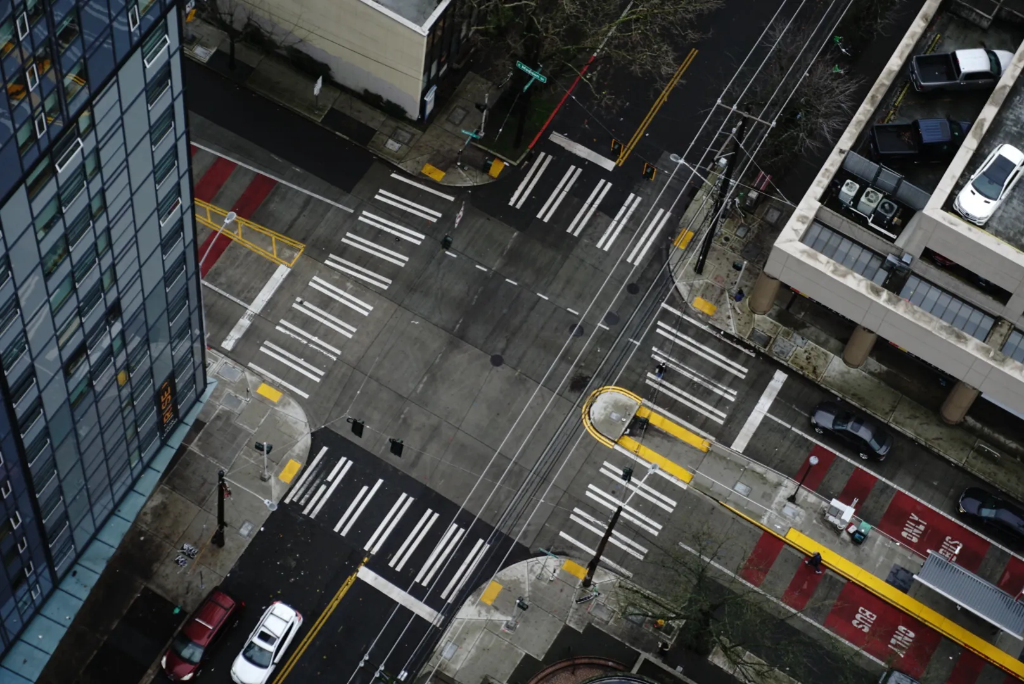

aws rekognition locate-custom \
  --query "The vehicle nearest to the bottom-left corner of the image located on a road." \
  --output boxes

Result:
[166,592,246,684]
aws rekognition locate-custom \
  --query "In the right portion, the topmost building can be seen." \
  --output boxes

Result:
[750,0,1024,425]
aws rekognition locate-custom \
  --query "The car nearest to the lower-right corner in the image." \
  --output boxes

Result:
[953,488,1024,553]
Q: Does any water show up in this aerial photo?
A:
No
